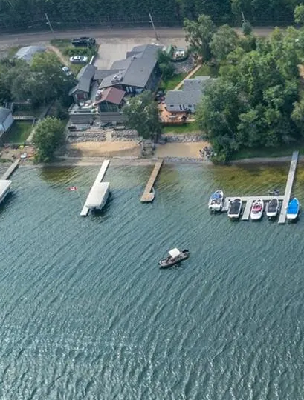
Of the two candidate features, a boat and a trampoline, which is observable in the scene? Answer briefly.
boat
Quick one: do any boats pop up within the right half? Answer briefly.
Yes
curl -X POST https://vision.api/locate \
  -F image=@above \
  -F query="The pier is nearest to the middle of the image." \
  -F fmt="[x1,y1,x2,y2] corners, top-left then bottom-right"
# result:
[140,158,167,204]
